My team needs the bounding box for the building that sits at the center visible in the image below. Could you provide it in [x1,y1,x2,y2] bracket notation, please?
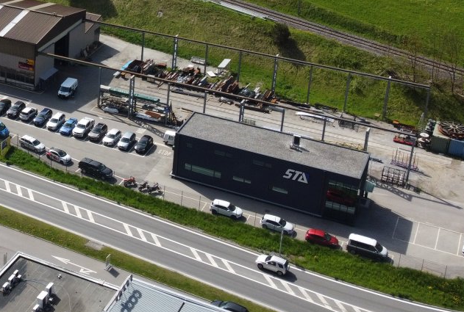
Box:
[172,110,381,225]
